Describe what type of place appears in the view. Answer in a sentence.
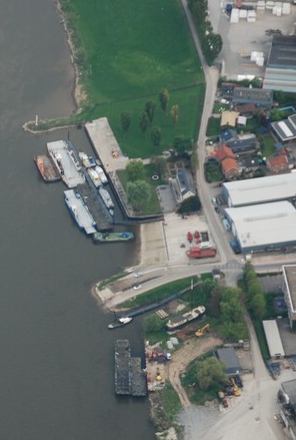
This image shows a port.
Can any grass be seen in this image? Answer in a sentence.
Yes, there is grass in the image.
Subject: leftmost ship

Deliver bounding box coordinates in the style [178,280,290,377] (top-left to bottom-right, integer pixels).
[35,154,58,181]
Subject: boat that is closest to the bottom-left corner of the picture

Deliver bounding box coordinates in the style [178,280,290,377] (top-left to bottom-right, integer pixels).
[107,310,134,327]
